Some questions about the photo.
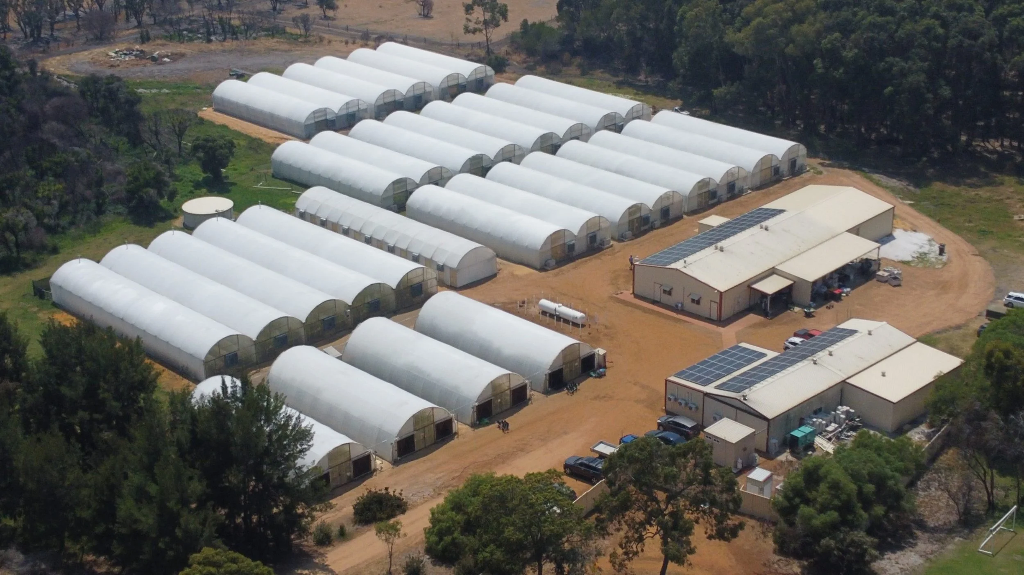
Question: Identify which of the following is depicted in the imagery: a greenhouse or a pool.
greenhouse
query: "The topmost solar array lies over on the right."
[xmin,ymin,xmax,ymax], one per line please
[640,207,785,265]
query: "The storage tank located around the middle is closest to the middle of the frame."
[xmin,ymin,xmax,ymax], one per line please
[539,296,585,324]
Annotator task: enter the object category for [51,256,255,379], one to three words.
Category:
greenhouse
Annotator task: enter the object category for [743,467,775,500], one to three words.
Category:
shed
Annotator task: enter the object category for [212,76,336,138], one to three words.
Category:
greenhouse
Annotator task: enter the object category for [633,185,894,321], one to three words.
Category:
shed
